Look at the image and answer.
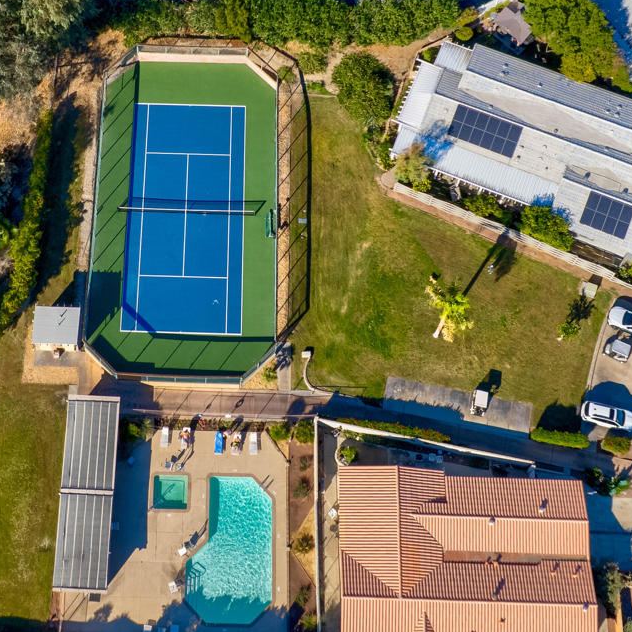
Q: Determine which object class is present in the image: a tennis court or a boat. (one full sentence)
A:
There is a tennis court in the scene.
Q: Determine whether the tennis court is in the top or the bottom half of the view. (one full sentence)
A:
It is in the top half that the tennis court appears.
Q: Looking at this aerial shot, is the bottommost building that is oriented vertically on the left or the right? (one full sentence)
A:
The bottommost building that is oriented vertically is on the left side of the image.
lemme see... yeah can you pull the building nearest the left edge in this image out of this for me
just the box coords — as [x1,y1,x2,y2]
[32,305,79,351]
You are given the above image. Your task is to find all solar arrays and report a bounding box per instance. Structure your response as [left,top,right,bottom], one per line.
[447,102,525,158]
[578,190,632,240]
